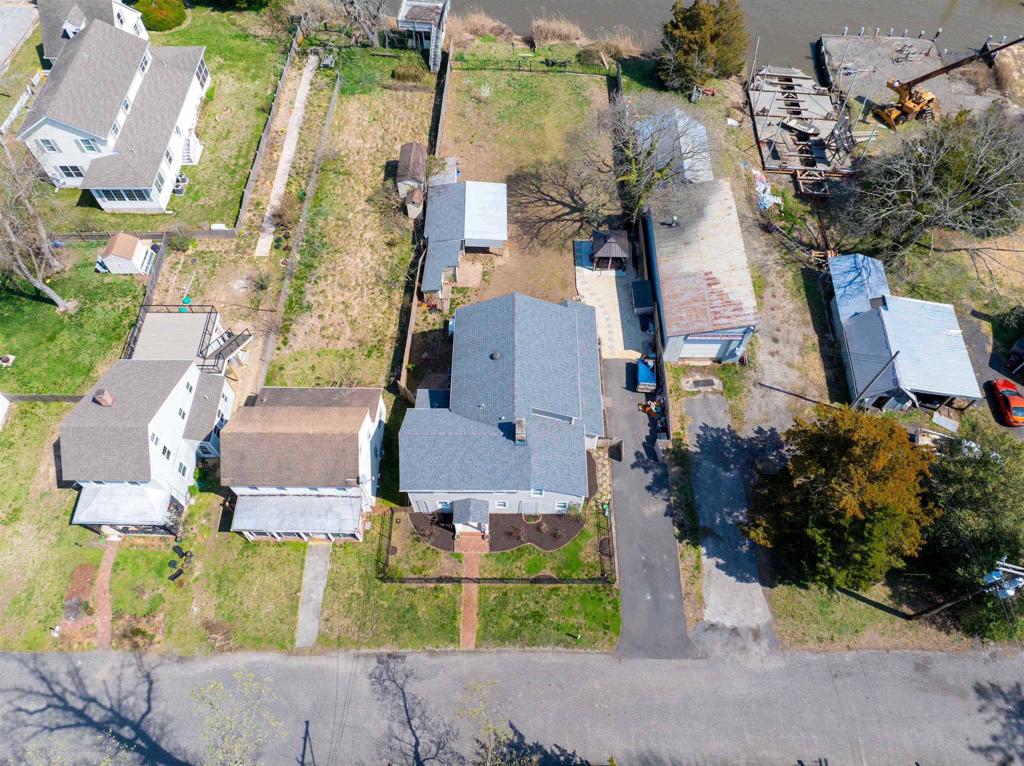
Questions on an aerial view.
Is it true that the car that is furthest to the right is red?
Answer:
Yes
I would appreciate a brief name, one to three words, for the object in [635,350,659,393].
trailer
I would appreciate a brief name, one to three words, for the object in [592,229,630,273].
gazebo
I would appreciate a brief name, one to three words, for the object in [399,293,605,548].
house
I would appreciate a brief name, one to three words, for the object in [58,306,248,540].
house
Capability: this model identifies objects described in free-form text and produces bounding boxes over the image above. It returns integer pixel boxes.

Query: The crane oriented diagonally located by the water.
[866,36,1024,137]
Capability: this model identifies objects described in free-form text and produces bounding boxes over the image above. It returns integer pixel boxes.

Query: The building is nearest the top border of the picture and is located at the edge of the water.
[398,0,448,73]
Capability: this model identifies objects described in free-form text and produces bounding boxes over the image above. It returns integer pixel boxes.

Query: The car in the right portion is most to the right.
[997,375,1024,422]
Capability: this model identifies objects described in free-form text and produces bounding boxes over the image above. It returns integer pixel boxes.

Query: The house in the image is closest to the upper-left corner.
[12,0,211,211]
